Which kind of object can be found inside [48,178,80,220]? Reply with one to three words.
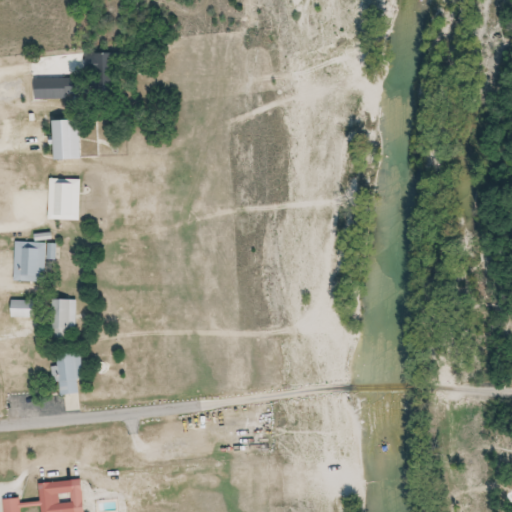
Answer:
barn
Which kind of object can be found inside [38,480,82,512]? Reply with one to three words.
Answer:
house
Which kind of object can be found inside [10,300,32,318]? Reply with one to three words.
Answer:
shed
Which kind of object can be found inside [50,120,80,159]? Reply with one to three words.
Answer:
building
